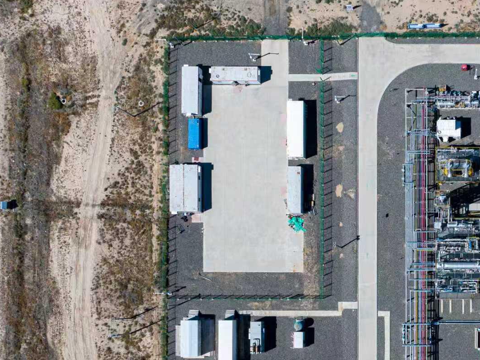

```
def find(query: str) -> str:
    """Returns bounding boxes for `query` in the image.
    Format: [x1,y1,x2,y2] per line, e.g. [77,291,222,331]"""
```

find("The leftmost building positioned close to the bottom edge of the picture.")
[175,310,213,360]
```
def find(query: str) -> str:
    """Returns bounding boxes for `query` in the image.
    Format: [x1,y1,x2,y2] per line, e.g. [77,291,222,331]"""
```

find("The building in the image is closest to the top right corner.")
[437,117,462,144]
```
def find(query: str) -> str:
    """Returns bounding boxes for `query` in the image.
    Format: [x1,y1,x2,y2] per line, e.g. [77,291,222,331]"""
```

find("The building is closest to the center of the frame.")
[170,165,202,214]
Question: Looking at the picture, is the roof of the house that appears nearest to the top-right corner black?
No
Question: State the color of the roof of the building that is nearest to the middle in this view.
white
